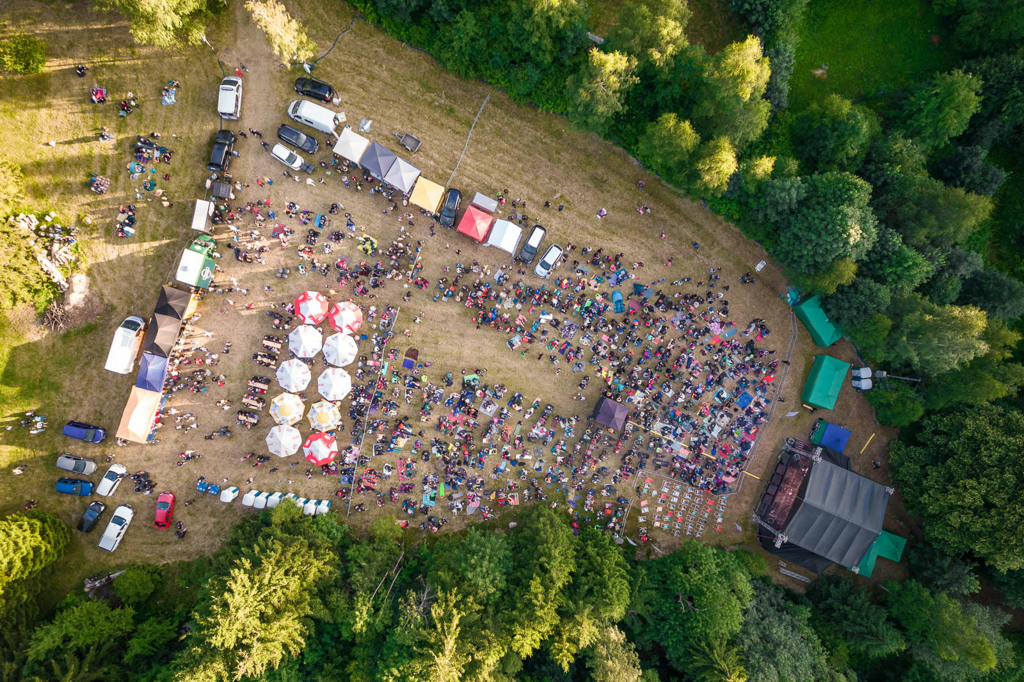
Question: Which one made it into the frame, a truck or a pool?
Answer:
truck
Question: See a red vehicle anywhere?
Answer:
Yes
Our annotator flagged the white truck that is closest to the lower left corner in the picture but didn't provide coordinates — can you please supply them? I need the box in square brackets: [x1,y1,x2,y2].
[100,501,139,552]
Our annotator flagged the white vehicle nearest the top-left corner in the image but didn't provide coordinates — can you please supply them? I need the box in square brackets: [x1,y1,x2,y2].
[219,78,246,124]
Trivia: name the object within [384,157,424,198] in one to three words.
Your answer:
gazebo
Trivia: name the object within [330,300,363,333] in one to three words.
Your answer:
umbrella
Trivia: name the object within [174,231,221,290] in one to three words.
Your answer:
truck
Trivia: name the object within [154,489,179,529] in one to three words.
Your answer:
car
